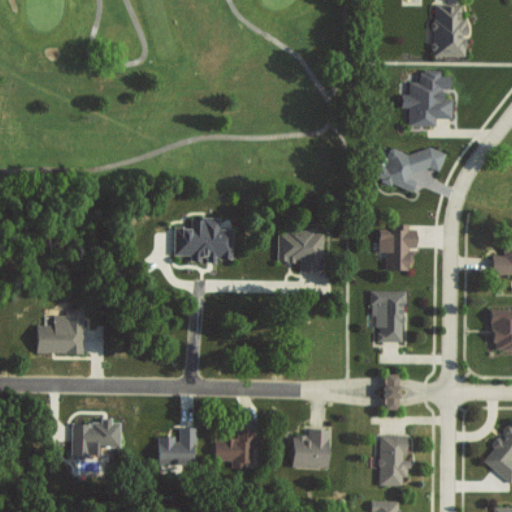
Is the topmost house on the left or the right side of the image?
right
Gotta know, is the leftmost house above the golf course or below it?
below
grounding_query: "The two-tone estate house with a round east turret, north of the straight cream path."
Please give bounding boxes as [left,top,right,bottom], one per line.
[432,0,475,58]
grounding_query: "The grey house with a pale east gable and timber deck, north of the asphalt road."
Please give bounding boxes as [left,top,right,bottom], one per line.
[37,316,84,355]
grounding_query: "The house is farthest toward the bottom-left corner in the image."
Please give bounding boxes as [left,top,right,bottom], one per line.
[72,420,122,459]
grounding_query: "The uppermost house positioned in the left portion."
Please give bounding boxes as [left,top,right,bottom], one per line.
[175,218,234,264]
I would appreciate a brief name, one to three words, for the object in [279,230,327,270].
house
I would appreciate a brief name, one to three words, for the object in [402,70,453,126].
house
